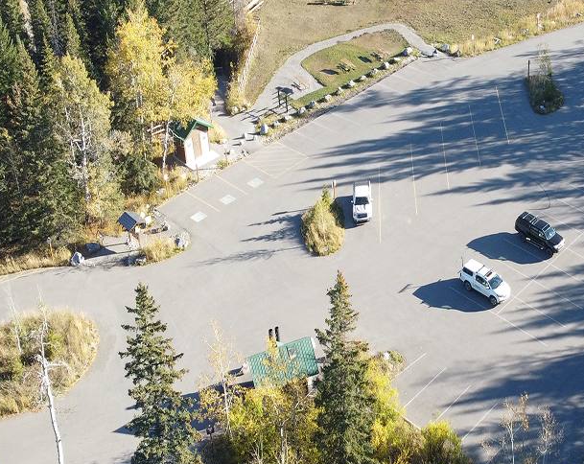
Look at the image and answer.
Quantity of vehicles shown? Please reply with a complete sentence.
In total, there are 3 vehicles in the scene.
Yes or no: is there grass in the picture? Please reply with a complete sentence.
Yes, the picture does contain grass.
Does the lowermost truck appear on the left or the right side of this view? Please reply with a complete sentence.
The lowermost truck is on the right side of the image.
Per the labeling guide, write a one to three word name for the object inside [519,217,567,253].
car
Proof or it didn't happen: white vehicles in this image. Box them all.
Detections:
[459,263,514,305]
[349,185,372,218]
